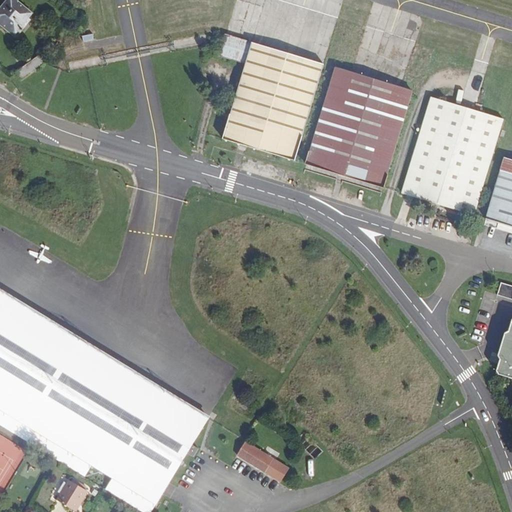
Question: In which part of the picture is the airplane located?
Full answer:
The airplane is located in the left region of the scene.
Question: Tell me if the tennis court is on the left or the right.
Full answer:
The tennis court sits on the left side.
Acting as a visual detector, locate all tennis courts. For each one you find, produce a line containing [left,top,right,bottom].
[0,438,24,488]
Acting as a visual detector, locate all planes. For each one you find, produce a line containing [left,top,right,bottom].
[28,244,52,264]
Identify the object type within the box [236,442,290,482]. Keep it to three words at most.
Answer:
building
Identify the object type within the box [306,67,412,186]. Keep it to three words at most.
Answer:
hangar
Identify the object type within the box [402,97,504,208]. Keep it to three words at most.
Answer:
hangar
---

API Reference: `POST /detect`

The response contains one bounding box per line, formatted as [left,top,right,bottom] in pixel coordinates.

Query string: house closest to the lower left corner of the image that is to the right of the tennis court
[54,476,90,512]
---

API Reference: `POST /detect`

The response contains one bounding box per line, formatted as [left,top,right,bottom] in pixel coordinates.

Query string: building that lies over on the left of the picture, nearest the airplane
[0,287,209,512]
